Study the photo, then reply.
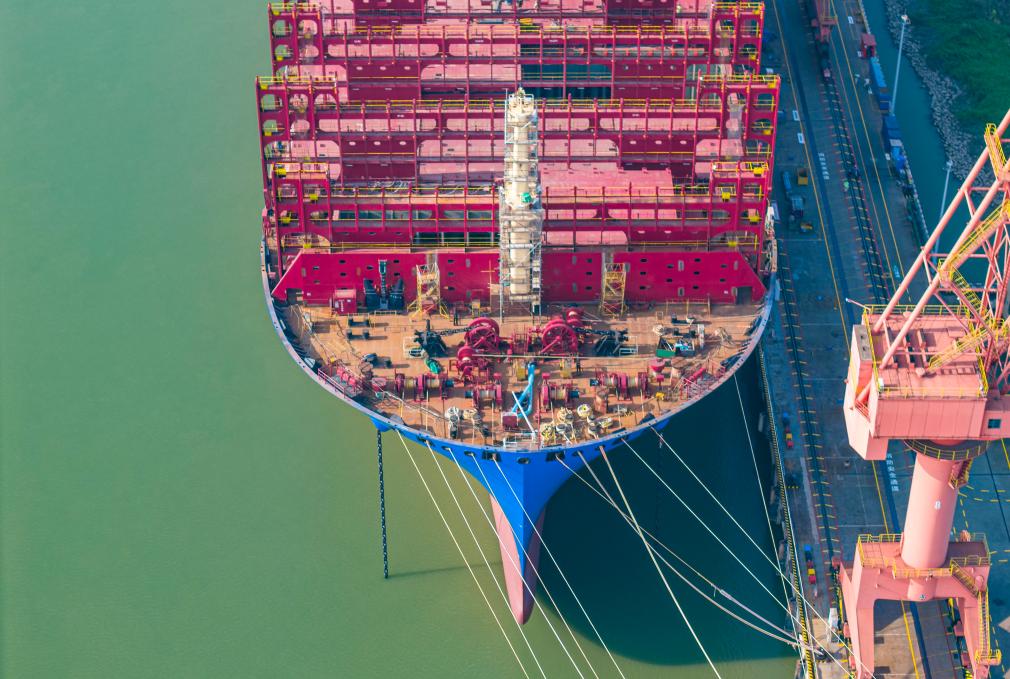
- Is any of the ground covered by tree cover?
No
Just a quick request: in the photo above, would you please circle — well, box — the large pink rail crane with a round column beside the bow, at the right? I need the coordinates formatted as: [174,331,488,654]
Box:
[829,104,1010,679]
